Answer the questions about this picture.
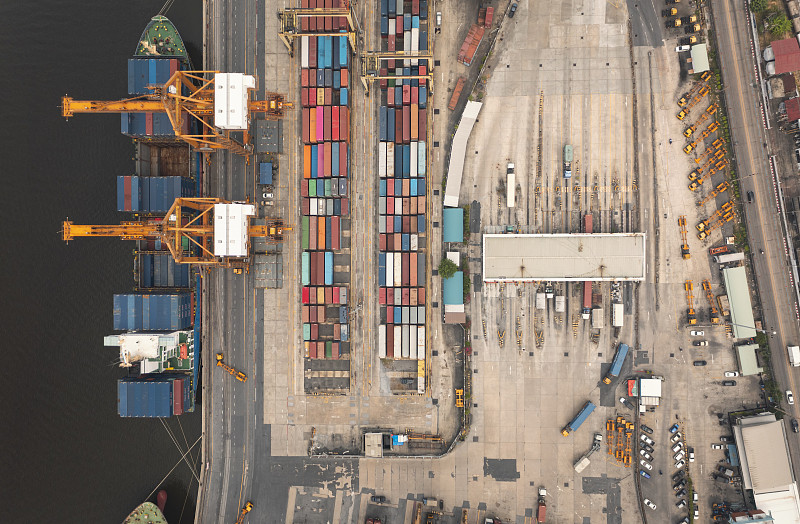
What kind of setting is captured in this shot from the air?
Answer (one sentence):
This image shows a port.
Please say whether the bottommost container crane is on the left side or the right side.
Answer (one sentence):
You can find the bottommost container crane on the left side of the picture.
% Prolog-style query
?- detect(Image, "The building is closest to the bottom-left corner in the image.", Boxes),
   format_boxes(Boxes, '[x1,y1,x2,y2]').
[365,430,383,458]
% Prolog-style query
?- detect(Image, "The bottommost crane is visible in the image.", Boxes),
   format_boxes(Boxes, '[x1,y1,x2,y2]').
[53,197,294,269]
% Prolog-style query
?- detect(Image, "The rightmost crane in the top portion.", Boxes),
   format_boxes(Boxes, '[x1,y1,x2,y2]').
[356,50,435,99]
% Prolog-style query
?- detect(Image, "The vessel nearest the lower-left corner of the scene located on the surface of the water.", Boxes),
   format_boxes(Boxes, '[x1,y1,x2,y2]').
[129,490,169,524]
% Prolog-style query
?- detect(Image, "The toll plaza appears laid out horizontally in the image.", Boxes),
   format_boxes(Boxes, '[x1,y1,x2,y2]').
[483,233,646,283]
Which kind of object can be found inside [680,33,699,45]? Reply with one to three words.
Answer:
vehicle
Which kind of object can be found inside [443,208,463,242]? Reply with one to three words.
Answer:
building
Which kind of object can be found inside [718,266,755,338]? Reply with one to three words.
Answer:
shed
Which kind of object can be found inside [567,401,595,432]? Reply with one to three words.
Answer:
shipping container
